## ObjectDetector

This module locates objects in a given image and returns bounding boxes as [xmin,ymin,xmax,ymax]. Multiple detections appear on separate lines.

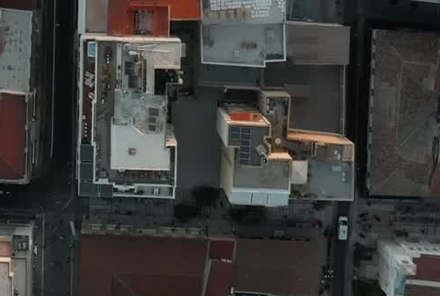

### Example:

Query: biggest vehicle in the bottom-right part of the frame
[338,217,350,243]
